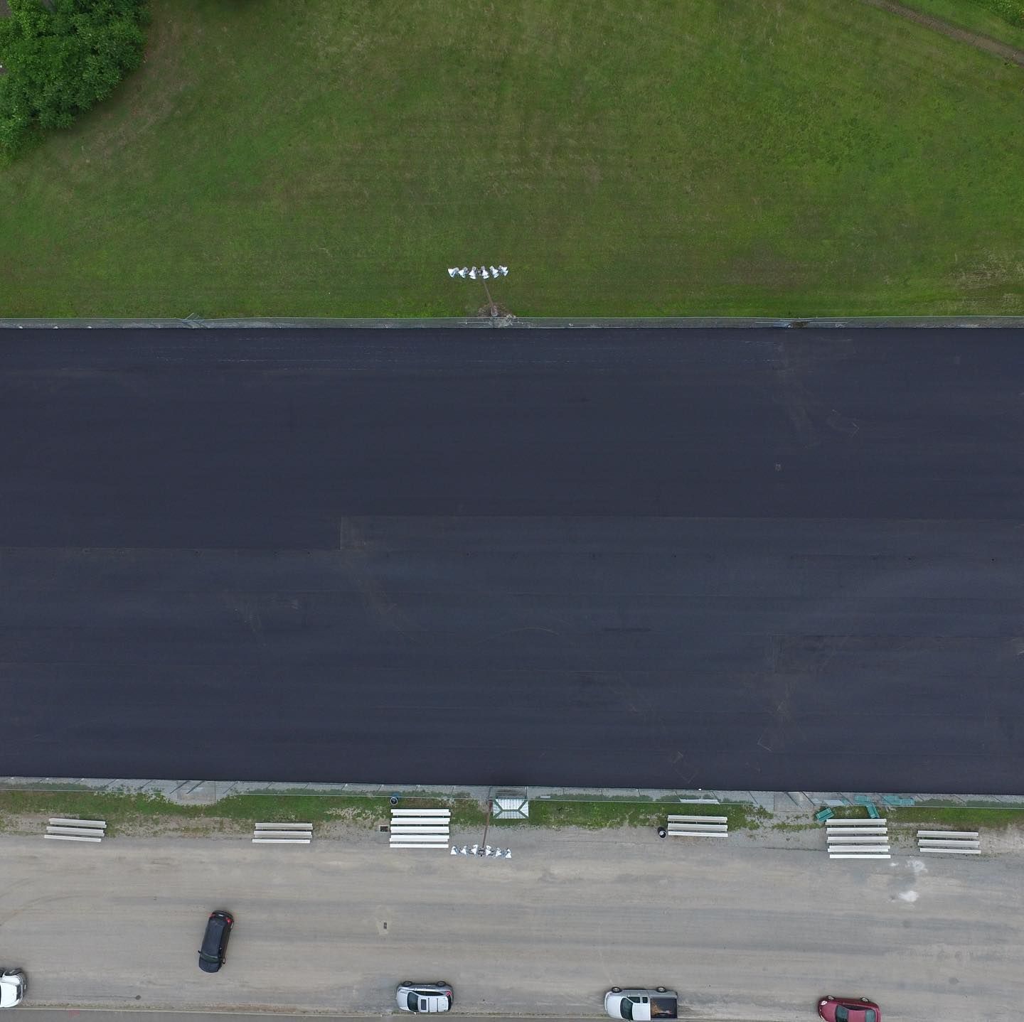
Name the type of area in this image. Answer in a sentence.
It's a sports ground.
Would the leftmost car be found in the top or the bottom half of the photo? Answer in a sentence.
The bottom half of the photo is where the leftmost car is.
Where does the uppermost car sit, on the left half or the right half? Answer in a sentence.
The uppermost car is on the left side of the image.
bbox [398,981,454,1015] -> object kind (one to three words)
car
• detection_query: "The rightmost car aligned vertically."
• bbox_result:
[197,909,234,972]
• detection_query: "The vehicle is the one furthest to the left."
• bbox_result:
[0,973,26,1005]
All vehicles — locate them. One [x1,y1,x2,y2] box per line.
[604,986,678,1022]
[398,981,454,1015]
[197,909,234,972]
[0,973,26,1005]
[818,997,884,1022]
